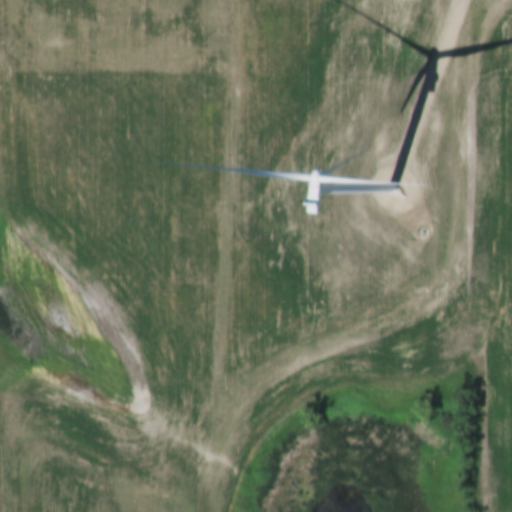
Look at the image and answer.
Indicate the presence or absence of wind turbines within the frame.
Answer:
Yes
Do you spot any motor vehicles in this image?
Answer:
No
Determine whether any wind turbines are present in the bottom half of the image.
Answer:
No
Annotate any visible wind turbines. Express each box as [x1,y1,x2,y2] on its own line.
[156,148,430,215]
